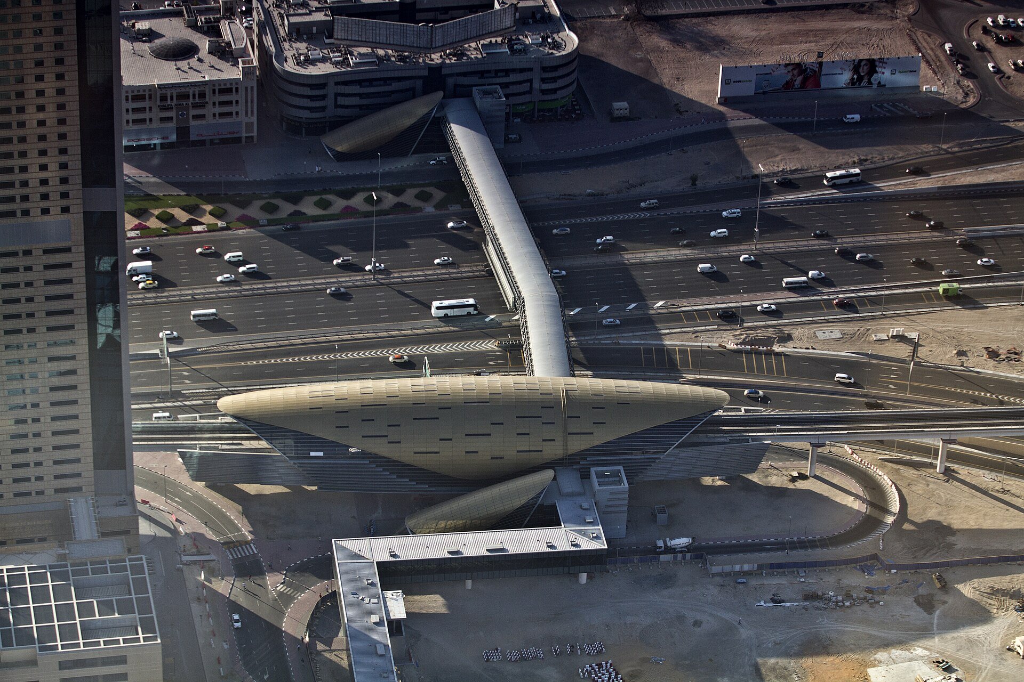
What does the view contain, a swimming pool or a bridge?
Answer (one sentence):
Looking from above, you can make out a bridge.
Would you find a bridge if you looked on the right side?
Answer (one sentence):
Yes, there is a bridge on the right side.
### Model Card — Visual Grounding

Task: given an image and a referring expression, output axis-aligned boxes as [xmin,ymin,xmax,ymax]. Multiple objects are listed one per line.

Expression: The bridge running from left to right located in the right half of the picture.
[673,405,1024,476]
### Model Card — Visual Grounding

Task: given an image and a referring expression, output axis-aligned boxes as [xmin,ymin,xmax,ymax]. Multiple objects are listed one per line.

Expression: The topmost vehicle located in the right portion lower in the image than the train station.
[656,533,696,552]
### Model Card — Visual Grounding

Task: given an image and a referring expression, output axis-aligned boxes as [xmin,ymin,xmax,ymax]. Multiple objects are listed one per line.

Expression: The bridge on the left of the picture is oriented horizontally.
[134,417,268,480]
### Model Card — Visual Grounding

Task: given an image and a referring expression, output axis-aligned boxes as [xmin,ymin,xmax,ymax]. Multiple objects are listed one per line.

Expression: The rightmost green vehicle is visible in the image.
[937,281,963,297]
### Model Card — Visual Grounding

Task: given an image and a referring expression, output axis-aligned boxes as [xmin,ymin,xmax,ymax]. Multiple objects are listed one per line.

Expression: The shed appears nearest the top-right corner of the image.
[610,98,629,117]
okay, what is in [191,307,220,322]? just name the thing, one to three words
vehicle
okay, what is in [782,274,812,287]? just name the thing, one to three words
vehicle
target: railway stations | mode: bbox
[176,375,770,505]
